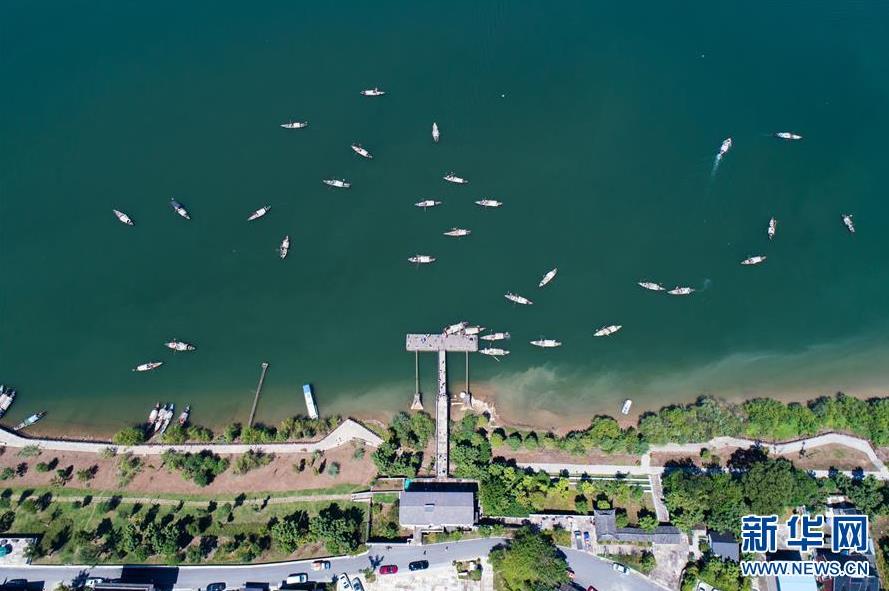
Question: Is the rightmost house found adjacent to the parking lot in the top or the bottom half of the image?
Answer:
bottom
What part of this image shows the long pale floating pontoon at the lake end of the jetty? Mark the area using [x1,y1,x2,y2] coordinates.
[406,334,477,351]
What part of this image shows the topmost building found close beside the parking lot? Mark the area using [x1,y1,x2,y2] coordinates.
[398,490,474,528]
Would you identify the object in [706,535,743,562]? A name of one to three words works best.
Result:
house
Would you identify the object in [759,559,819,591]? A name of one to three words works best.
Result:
building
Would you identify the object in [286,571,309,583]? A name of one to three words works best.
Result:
vehicle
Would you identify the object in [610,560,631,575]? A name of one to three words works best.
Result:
car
